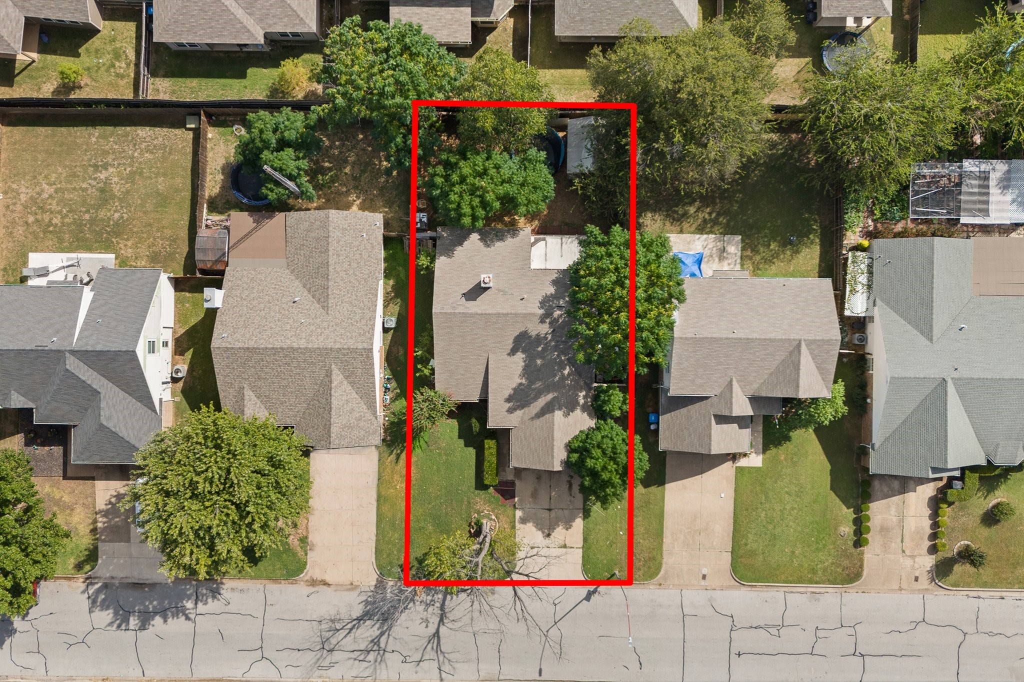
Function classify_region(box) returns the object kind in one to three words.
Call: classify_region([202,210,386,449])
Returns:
house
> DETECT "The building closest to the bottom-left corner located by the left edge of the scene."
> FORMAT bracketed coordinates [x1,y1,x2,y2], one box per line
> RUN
[0,267,175,466]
